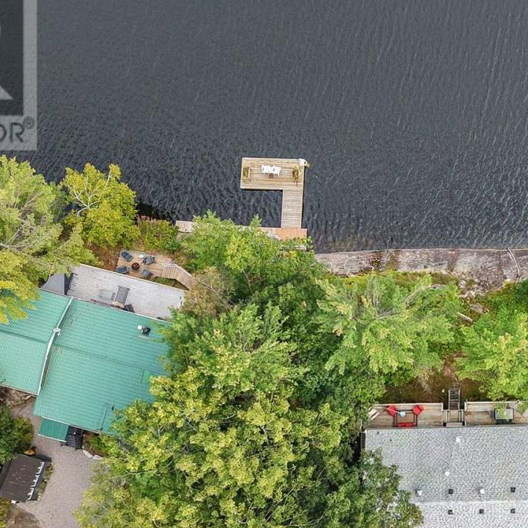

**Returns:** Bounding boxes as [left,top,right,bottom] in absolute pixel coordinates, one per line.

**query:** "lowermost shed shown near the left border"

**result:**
[2,453,57,502]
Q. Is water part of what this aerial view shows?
Yes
